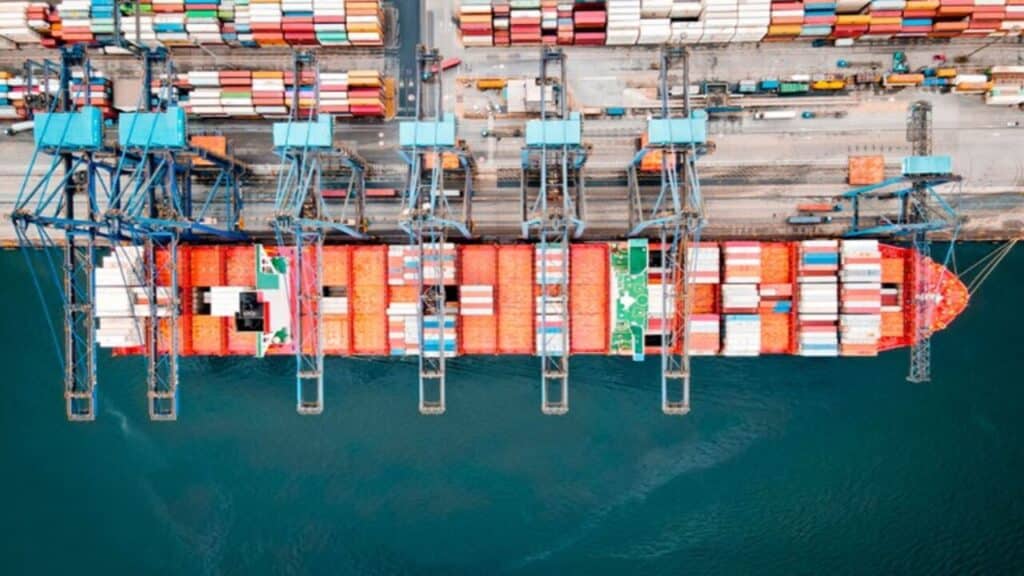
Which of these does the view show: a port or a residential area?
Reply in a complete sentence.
What you see here is a port.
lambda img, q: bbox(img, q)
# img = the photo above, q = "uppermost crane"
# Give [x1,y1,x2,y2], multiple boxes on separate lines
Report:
[115,0,166,60]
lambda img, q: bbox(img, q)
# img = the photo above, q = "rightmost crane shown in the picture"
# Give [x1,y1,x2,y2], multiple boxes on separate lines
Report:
[832,81,957,384]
